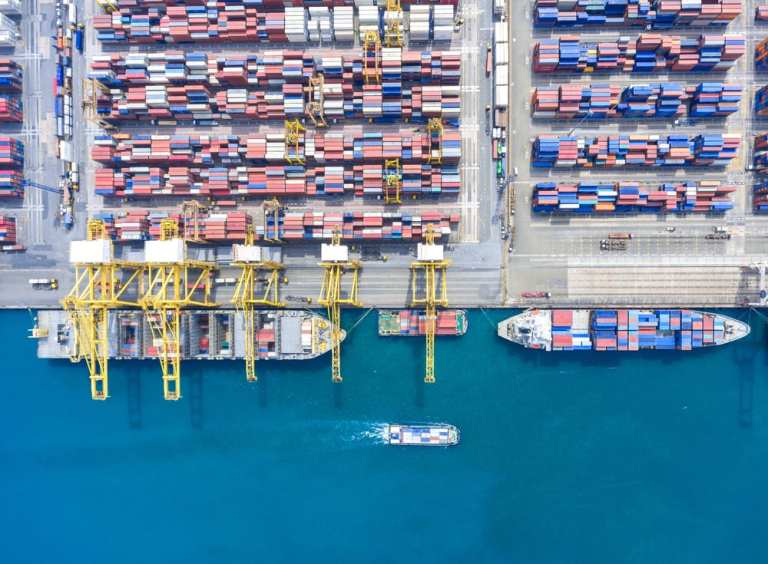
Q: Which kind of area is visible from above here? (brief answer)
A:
port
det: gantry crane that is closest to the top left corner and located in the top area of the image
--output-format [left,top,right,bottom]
[98,0,132,46]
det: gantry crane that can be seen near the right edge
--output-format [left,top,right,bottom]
[733,263,768,306]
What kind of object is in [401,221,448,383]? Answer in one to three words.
container crane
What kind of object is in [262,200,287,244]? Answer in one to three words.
container crane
